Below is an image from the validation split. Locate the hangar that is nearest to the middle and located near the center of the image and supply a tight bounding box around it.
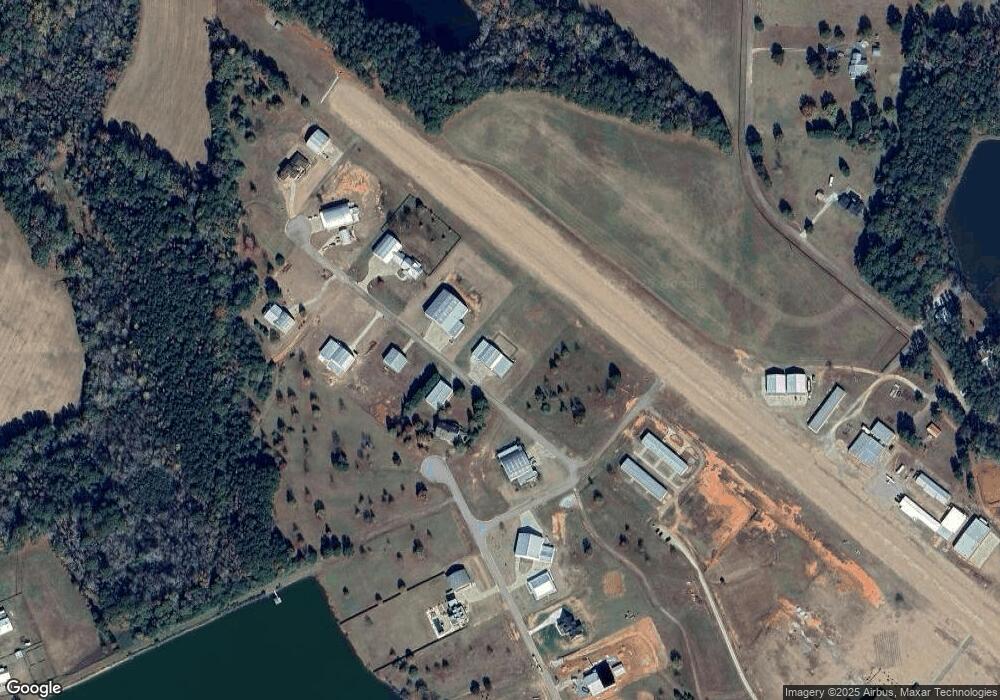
[472,340,514,379]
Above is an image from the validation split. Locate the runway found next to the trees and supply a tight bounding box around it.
[320,75,1000,676]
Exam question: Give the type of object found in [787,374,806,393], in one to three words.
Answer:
hangar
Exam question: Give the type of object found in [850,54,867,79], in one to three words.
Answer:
house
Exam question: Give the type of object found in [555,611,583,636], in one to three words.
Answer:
house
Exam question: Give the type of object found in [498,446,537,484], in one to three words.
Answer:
hangar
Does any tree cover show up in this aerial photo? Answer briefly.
Yes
